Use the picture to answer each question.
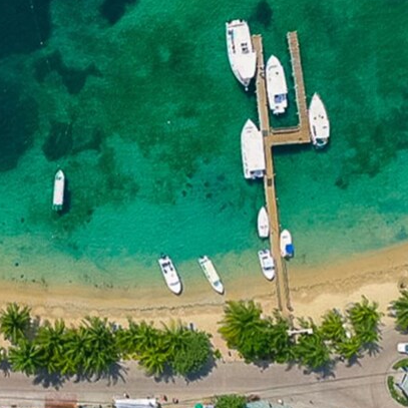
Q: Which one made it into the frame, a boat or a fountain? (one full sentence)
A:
Of the two, only a boat appears.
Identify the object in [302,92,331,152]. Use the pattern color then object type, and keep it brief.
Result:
white boat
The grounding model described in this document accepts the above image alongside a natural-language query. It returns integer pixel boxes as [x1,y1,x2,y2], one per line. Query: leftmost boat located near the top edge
[224,18,258,88]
